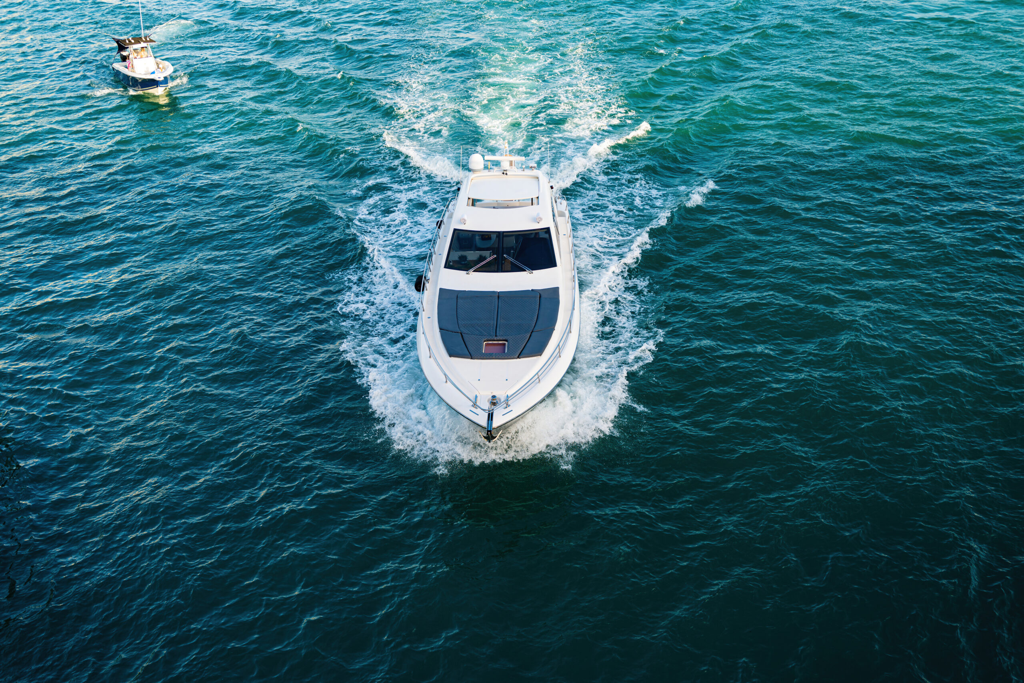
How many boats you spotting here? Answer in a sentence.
Looking from above, you can make out 2 boats.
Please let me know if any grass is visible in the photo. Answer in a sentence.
No, no grass is visible.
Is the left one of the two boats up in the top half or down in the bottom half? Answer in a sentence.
It is in the top half that the left one of the two boats appears.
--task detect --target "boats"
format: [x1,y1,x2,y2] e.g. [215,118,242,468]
[417,135,581,452]
[56,2,174,95]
